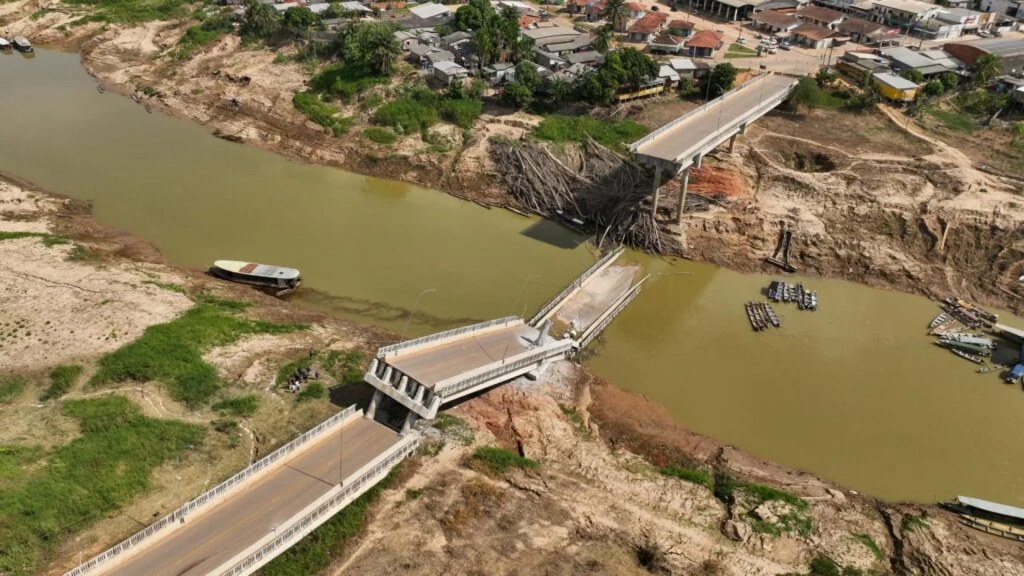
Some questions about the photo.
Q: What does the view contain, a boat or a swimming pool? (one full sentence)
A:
It is a boat that can be seen here.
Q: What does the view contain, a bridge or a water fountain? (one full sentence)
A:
The one in the frame is a bridge.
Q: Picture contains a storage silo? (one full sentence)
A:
No, the picture doesn't show any storage silo.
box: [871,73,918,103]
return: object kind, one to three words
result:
house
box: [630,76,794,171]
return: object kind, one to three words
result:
bridge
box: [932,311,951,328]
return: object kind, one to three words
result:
boat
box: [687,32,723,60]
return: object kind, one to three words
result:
house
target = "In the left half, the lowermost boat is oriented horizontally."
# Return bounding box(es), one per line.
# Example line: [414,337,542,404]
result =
[208,263,307,289]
